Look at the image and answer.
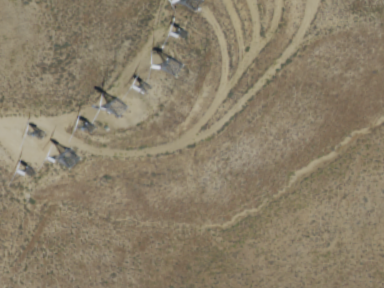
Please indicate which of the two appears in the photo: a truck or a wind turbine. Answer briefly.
wind turbine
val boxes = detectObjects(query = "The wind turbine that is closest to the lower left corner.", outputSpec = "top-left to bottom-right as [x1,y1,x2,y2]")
[10,160,38,182]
